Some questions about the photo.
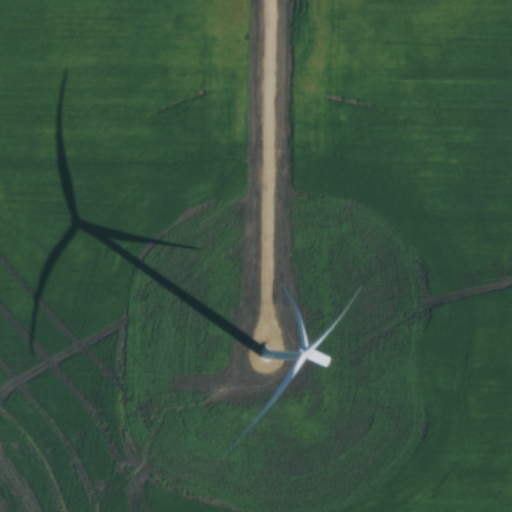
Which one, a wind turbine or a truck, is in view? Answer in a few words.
wind turbine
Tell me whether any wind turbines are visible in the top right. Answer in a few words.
No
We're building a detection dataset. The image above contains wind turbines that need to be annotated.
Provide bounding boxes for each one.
[220,254,380,460]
